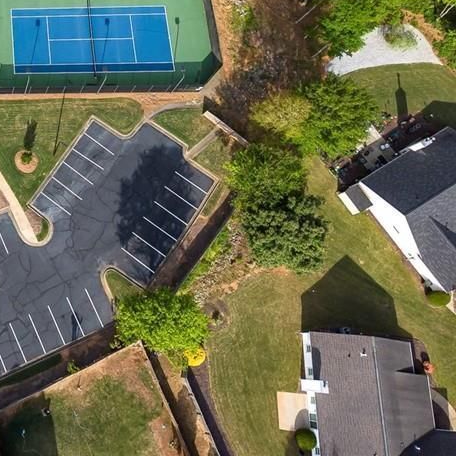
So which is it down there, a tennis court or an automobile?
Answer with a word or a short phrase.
tennis court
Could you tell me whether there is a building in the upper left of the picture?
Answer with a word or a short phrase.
No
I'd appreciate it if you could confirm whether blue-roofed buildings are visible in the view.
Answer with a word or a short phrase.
No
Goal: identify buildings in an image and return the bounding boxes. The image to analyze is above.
[338,128,456,297]
[296,333,456,456]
